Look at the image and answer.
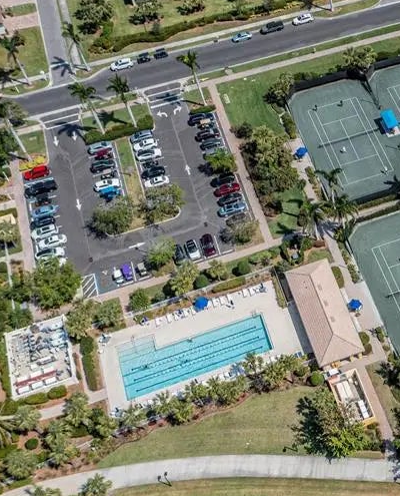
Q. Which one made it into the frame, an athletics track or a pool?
pool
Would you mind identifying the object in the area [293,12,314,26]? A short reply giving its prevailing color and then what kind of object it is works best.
white car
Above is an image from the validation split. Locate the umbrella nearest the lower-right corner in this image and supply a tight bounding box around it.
[348,299,363,313]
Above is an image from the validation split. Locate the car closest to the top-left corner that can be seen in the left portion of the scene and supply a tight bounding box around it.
[110,59,133,71]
